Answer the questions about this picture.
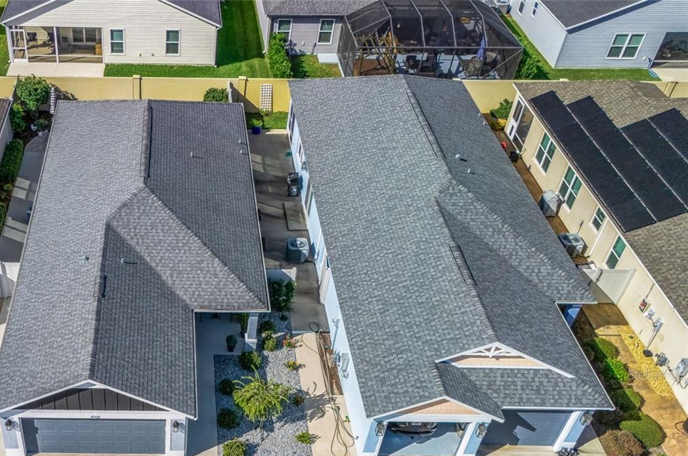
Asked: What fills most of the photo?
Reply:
buildings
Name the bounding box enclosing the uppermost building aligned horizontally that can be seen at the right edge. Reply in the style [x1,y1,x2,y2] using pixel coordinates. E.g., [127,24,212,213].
[519,0,688,70]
